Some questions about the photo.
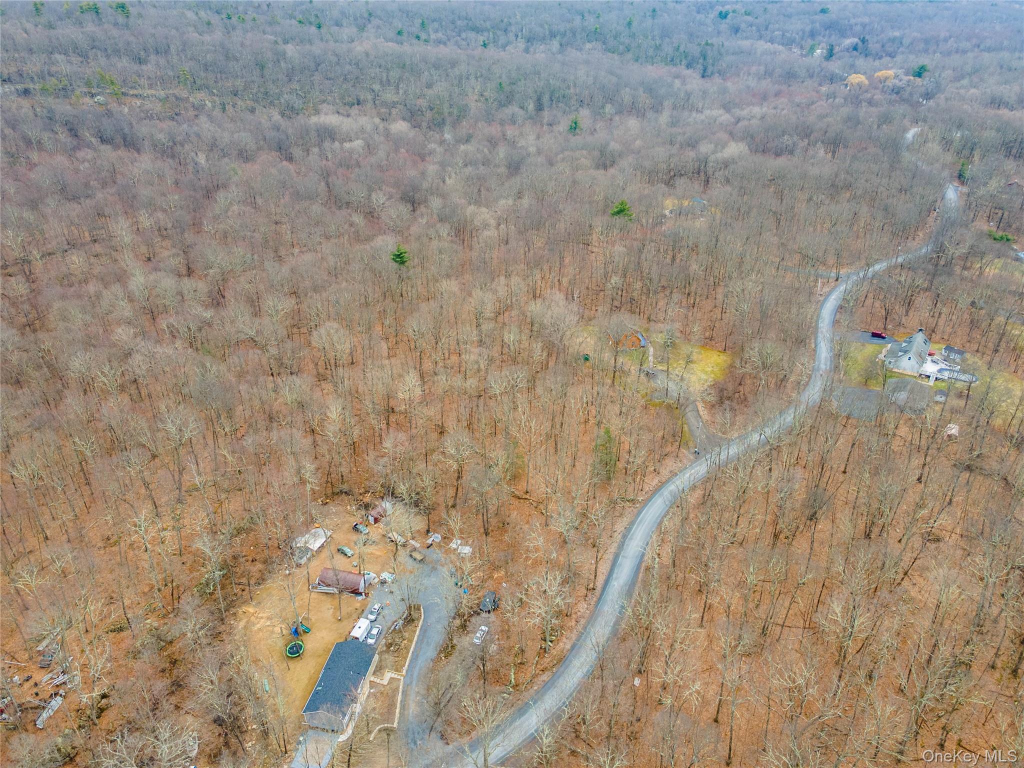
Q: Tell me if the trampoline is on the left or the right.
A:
left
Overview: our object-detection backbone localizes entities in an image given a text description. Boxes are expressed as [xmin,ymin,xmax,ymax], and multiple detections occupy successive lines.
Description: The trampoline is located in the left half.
[283,639,305,659]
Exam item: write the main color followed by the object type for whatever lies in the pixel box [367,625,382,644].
white car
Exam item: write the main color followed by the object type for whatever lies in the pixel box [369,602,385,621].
white car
